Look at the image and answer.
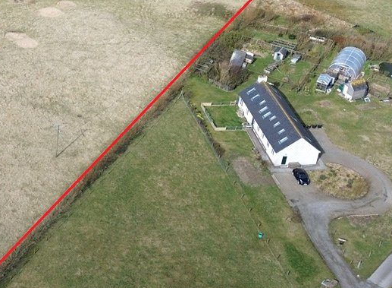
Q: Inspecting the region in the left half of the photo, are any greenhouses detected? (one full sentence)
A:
No, in the left half of the photo there is no greenhouse.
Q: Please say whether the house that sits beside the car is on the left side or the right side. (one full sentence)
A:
You can find the house that sits beside the car on the right side of the picture.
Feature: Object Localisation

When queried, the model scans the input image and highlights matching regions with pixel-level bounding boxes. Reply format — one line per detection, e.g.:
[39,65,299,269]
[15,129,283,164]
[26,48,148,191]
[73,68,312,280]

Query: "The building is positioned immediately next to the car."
[239,77,321,171]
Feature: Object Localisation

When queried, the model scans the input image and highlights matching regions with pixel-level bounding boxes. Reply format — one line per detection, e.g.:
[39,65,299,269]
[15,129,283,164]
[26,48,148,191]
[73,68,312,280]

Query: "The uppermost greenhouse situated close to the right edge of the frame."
[323,43,373,79]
